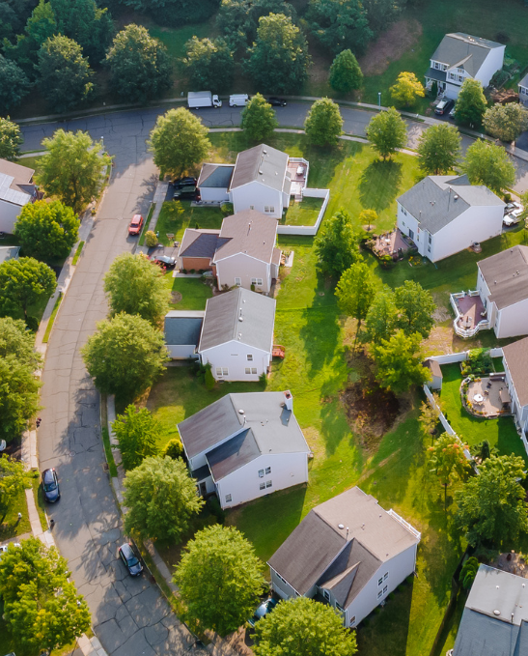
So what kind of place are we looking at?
residential area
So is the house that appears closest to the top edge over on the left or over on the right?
right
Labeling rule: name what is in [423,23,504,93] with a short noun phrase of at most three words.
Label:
house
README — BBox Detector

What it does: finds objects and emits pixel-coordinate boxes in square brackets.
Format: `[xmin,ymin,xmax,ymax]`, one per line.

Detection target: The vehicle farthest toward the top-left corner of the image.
[182,88,219,109]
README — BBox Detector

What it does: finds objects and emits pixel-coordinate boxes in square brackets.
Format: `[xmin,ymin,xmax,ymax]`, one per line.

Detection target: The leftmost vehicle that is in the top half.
[126,211,143,233]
